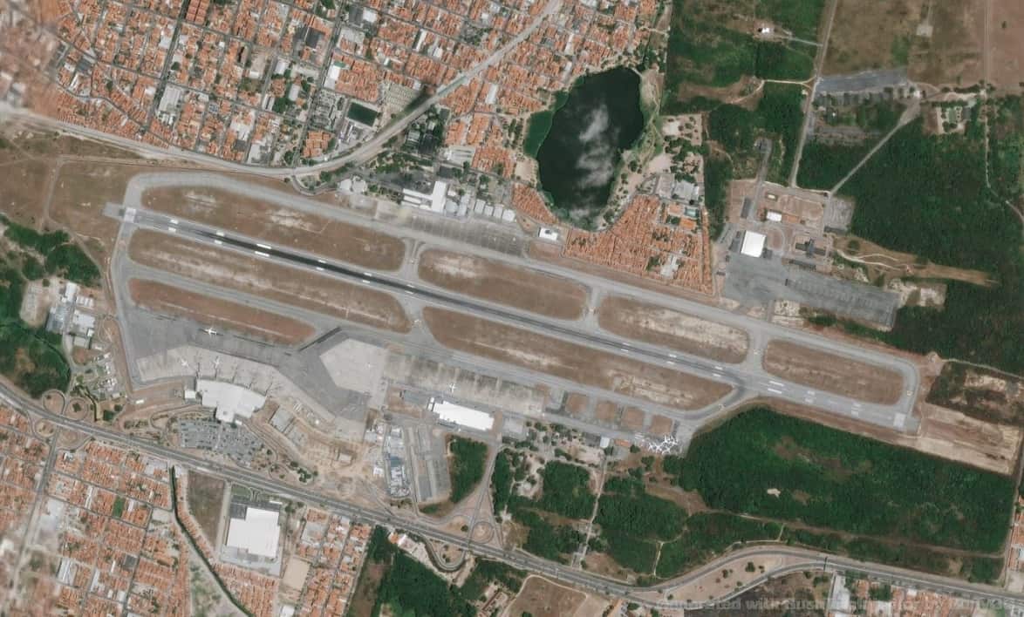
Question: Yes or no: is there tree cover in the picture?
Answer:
Yes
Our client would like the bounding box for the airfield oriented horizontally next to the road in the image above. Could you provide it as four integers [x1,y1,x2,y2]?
[103,171,920,454]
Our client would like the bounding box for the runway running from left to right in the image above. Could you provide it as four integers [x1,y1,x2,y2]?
[125,208,906,428]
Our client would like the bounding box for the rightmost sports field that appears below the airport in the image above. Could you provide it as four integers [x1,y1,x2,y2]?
[280,557,311,593]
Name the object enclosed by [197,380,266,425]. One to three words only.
building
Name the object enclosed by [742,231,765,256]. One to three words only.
building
